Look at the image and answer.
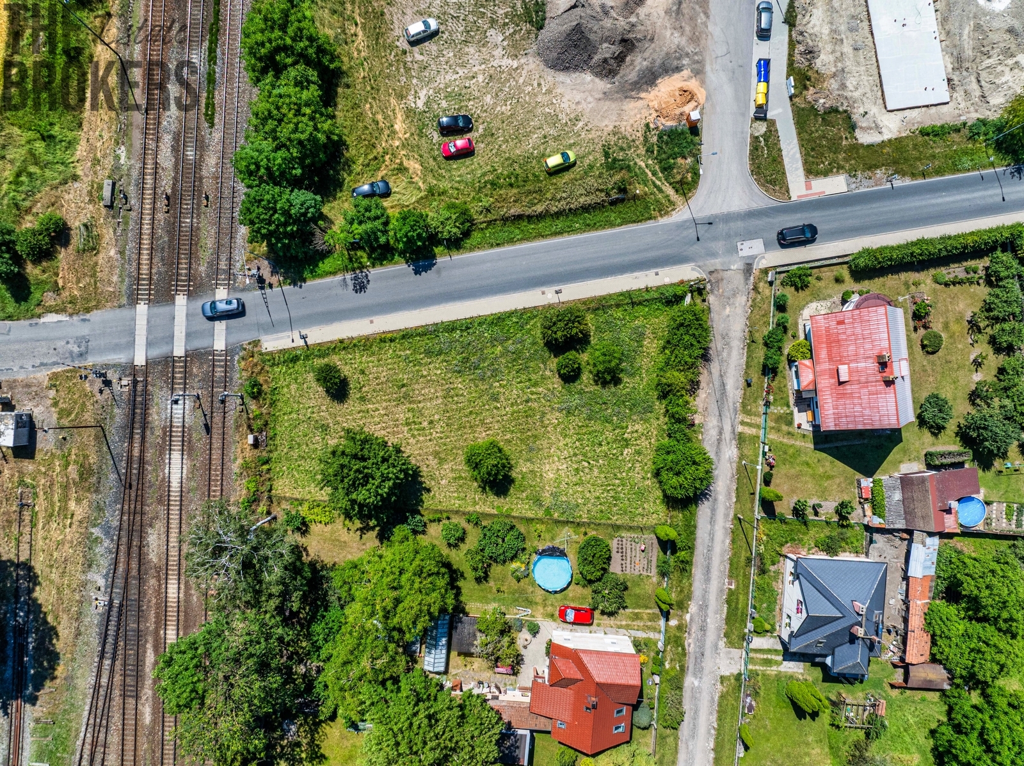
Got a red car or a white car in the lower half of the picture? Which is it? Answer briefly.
red car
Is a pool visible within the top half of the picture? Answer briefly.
No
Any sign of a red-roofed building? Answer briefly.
Yes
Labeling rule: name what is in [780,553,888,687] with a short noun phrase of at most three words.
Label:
house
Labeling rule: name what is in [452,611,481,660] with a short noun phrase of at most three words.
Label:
shed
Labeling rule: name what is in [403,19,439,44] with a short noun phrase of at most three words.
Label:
car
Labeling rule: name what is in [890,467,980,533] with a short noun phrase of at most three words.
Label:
building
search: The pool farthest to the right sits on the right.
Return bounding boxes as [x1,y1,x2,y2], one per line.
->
[952,497,986,526]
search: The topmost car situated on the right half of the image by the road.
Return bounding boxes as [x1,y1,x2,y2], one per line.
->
[754,2,773,38]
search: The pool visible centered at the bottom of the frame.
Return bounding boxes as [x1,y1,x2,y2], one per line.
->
[532,545,572,592]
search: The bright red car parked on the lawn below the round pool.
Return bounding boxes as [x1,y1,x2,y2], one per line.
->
[558,605,594,624]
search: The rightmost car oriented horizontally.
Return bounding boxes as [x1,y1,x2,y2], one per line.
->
[776,224,817,246]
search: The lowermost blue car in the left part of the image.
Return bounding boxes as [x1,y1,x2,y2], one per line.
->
[203,299,245,317]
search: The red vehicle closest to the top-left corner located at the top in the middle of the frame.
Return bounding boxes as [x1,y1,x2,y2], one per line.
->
[441,138,475,159]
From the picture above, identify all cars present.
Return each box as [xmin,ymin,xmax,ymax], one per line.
[558,605,594,624]
[754,2,773,38]
[438,115,473,135]
[776,224,817,246]
[203,299,245,317]
[441,138,475,159]
[403,19,439,44]
[543,151,577,175]
[352,179,391,201]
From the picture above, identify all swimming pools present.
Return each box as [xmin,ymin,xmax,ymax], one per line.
[952,497,986,526]
[532,545,572,592]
